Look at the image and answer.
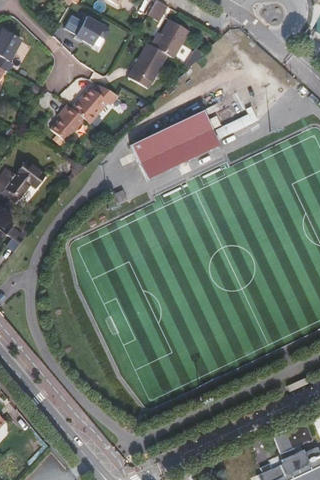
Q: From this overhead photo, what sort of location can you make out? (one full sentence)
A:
The picture captures a sports ground.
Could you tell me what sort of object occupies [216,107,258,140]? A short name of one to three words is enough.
building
